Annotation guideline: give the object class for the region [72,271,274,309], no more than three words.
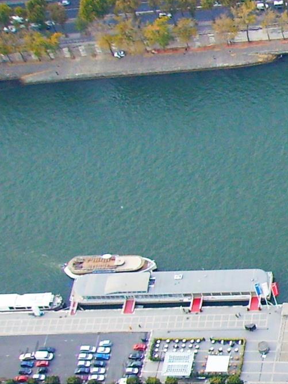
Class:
pier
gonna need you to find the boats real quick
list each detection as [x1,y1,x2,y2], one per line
[0,292,69,313]
[68,253,154,277]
